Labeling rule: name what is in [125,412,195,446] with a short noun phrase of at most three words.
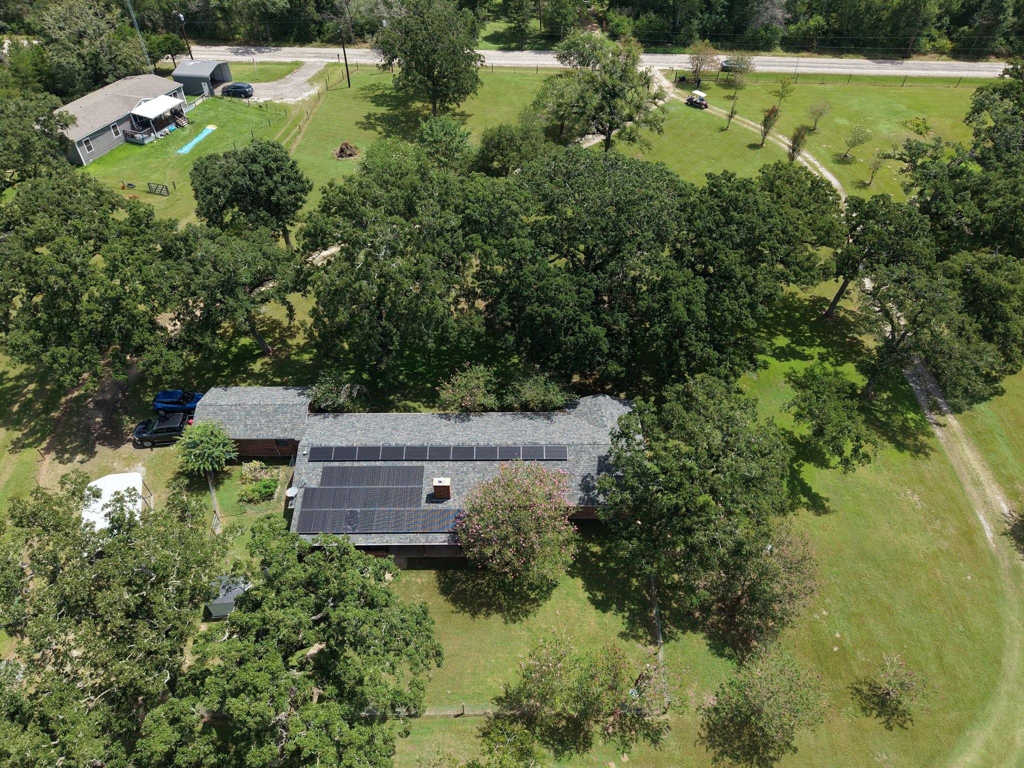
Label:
truck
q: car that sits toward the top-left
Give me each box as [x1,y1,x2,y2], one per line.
[218,82,252,98]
